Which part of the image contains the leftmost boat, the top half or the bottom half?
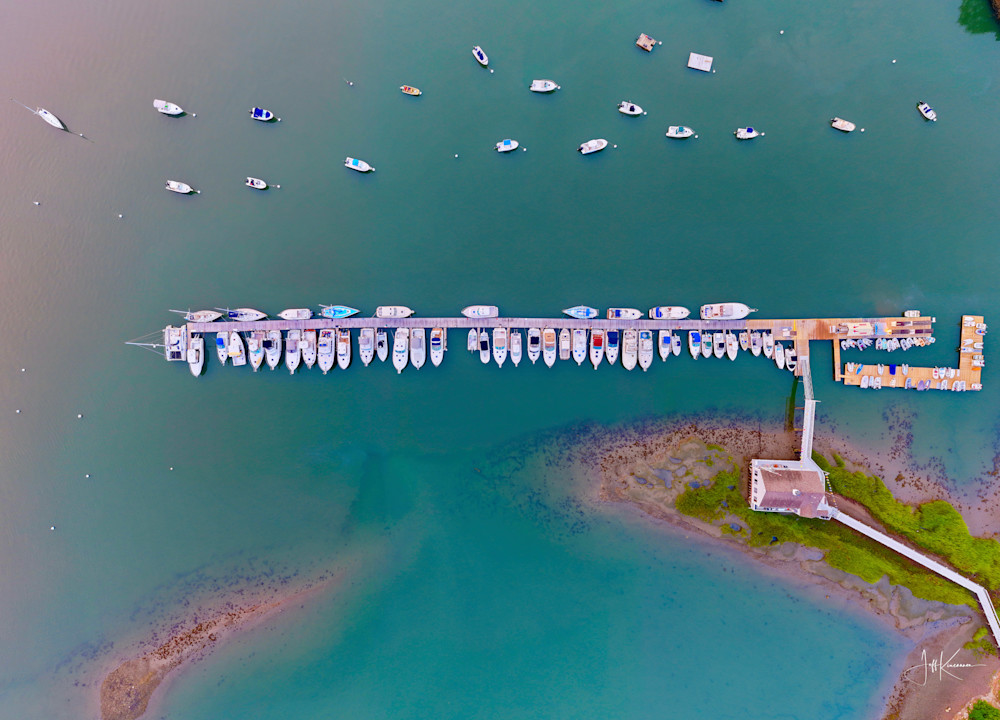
top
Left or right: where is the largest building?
right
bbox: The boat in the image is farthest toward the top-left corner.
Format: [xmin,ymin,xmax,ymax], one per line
[10,98,78,134]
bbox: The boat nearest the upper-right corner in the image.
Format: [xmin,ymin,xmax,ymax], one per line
[915,103,936,119]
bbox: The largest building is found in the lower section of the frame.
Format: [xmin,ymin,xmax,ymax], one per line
[748,458,837,523]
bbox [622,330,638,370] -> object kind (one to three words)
boat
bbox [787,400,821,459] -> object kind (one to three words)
pier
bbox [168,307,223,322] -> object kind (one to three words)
boat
